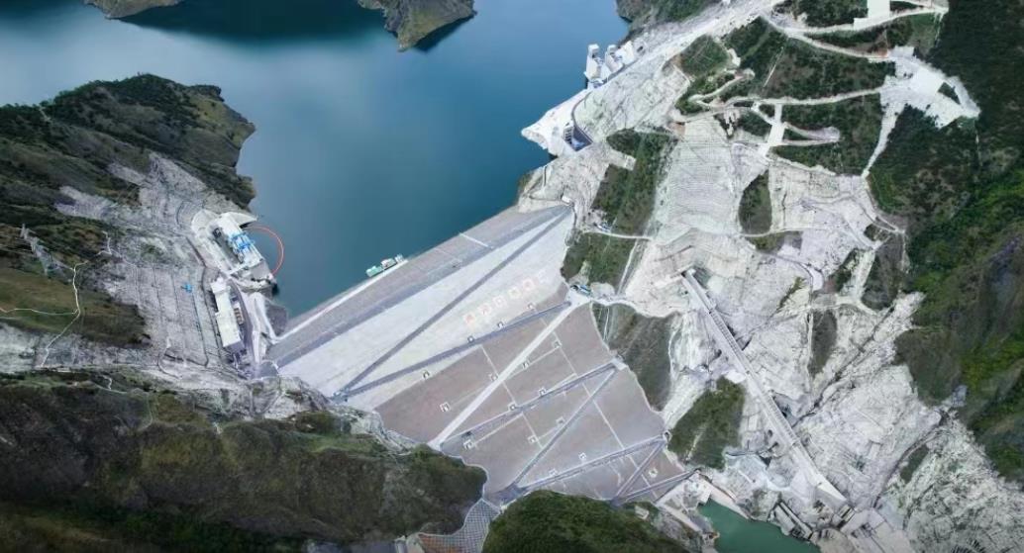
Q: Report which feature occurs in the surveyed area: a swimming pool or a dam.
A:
dam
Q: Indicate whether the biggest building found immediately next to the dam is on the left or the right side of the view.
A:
left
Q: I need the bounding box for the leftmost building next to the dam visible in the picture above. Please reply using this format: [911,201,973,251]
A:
[214,283,245,356]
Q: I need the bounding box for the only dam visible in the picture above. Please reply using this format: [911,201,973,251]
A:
[260,200,695,517]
